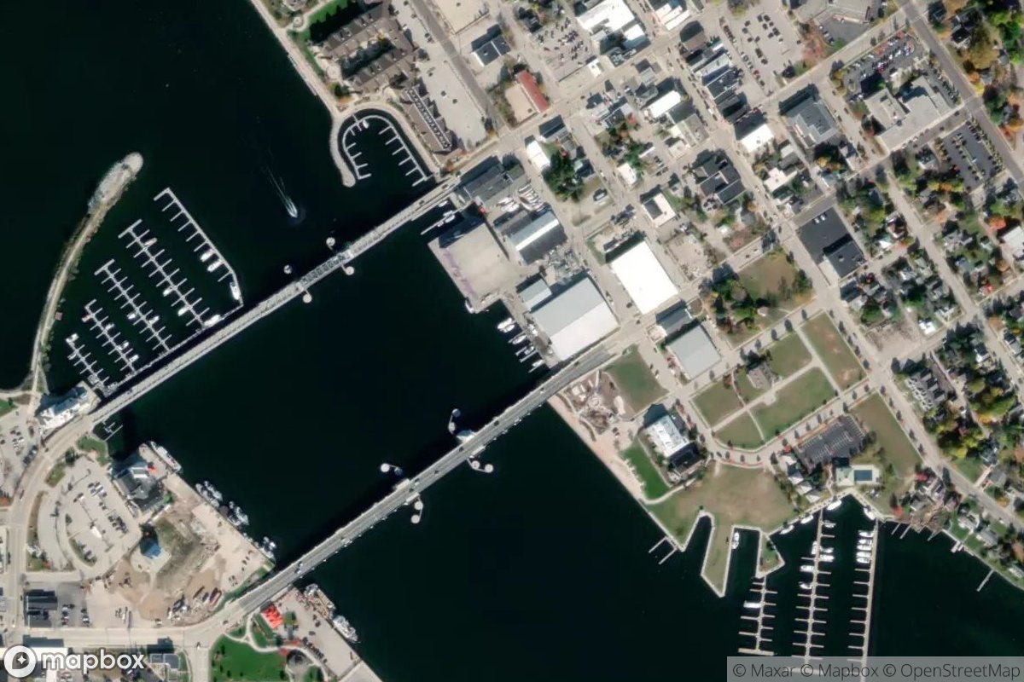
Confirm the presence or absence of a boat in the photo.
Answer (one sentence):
Yes, there is a boat in the image.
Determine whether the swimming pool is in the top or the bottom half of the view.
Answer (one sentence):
The swimming pool sits in the bottom half of the picture.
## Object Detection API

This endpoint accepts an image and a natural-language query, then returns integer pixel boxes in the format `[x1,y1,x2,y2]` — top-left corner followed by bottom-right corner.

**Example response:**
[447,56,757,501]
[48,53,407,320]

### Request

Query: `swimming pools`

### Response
[852,465,879,485]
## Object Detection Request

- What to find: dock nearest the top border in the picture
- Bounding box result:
[343,114,432,186]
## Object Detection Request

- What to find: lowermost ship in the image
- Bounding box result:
[333,619,360,646]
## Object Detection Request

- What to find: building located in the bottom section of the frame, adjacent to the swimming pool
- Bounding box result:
[836,467,854,486]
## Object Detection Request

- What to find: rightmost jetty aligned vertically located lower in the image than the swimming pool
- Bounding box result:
[843,518,878,682]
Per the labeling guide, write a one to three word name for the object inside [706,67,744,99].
building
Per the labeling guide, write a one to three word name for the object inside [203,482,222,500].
boat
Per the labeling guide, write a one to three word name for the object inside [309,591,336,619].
ship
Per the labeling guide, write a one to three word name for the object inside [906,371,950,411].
house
